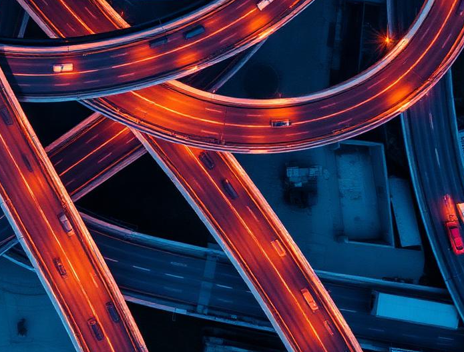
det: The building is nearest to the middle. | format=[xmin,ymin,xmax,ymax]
[283,160,323,187]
